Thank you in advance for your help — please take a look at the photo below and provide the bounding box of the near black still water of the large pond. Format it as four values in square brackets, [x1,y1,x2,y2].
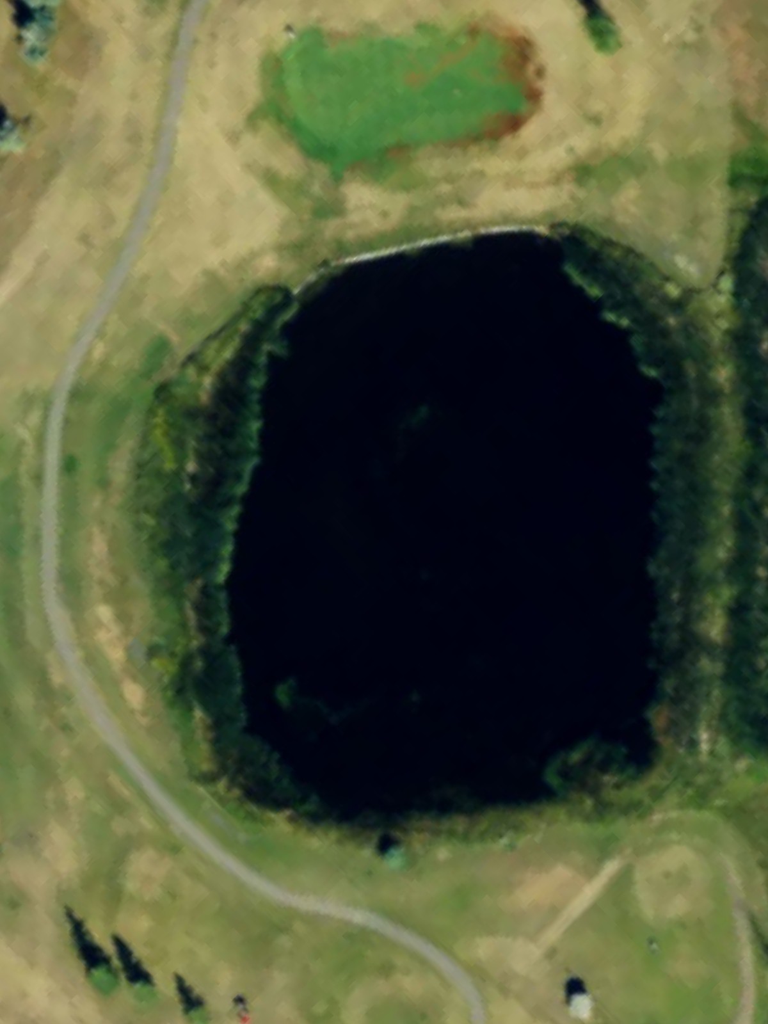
[224,230,662,821]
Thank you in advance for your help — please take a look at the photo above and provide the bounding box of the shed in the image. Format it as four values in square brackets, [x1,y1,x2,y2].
[570,995,593,1022]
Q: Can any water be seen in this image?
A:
Yes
